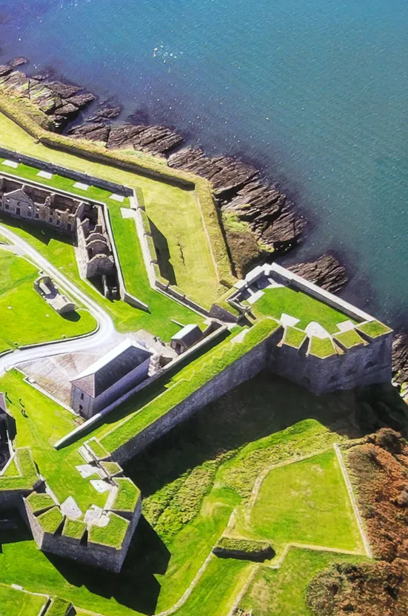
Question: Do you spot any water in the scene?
Yes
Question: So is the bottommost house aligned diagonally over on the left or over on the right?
left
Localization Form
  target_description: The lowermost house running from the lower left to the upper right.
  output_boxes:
[69,339,154,418]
